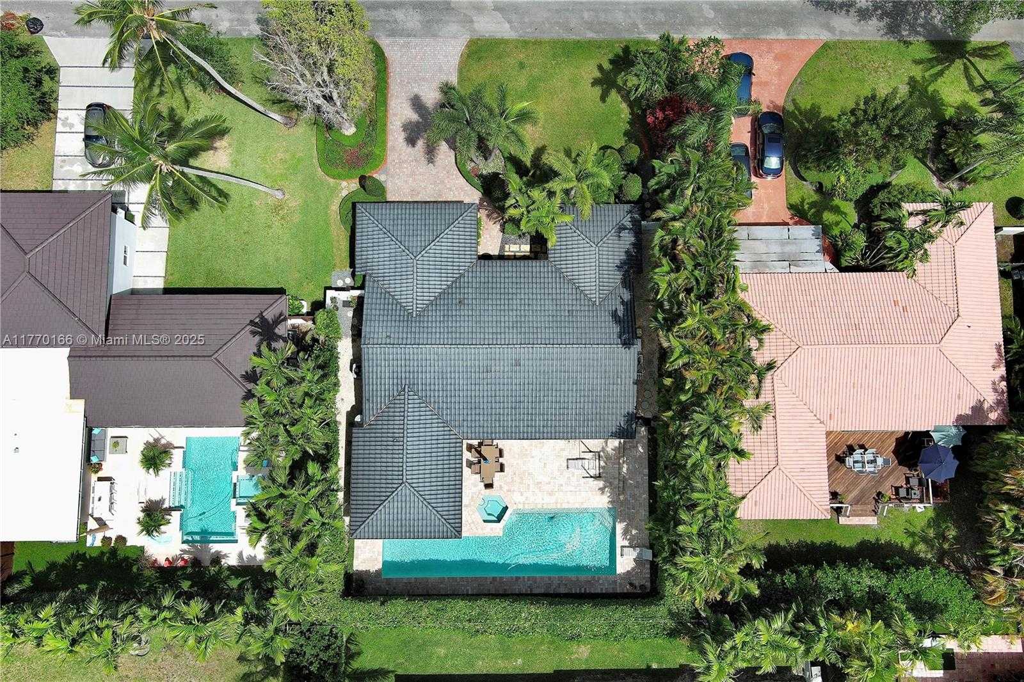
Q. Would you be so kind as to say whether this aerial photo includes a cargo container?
No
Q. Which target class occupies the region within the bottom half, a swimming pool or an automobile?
swimming pool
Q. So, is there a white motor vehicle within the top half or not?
No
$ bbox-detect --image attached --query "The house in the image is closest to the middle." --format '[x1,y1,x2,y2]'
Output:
[348,202,643,540]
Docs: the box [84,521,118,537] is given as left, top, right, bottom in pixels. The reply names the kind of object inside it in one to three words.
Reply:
umbrella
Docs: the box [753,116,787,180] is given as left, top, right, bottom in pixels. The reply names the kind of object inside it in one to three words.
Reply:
car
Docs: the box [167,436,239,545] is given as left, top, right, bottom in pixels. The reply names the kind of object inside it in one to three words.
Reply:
swimming pool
